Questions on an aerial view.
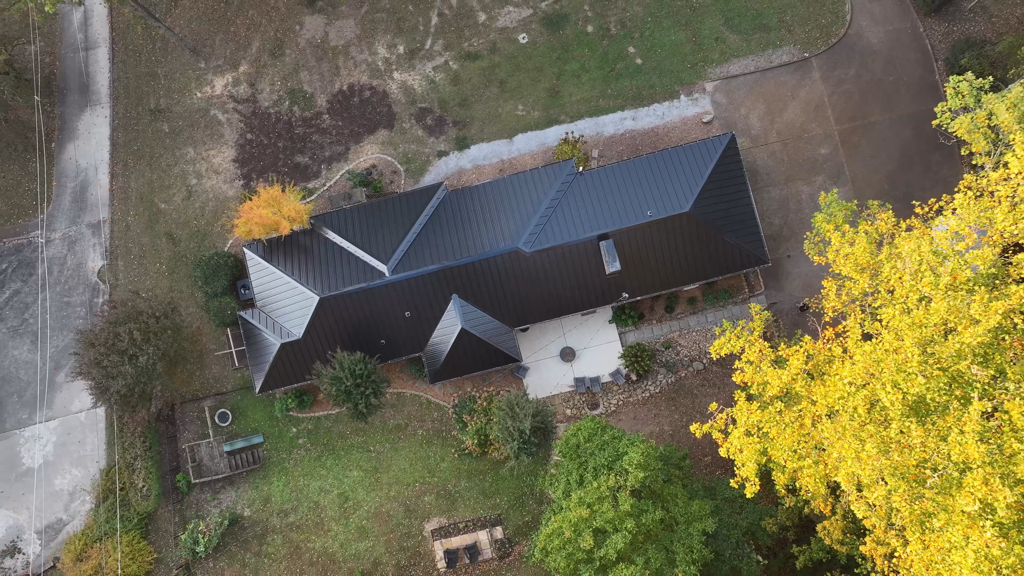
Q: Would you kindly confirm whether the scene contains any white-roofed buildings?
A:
No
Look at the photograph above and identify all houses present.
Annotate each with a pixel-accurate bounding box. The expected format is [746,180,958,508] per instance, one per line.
[235,130,770,396]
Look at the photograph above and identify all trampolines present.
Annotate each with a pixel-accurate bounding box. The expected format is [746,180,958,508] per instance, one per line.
[215,409,232,425]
